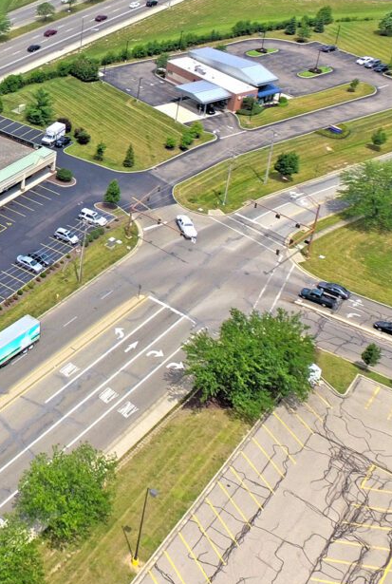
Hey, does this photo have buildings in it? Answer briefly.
Yes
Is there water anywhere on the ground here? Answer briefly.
No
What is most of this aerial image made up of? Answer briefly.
paved ground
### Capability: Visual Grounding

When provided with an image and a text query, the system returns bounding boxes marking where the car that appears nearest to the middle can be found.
[178,217,197,235]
